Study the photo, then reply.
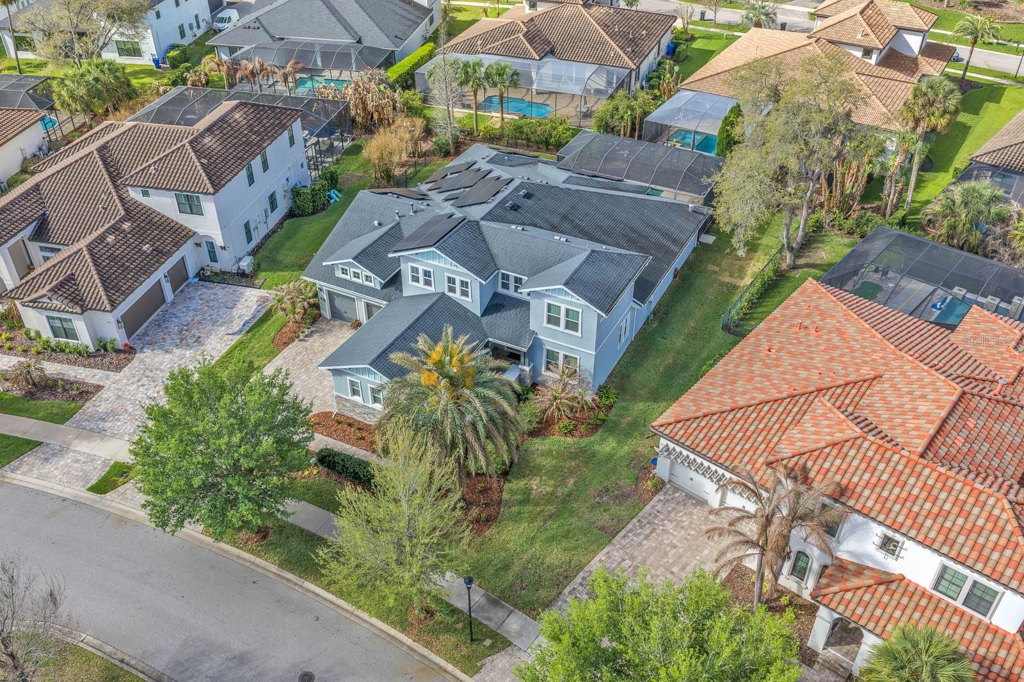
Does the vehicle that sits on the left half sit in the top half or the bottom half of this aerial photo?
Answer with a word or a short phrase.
top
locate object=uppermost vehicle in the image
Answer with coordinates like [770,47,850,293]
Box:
[209,5,238,28]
